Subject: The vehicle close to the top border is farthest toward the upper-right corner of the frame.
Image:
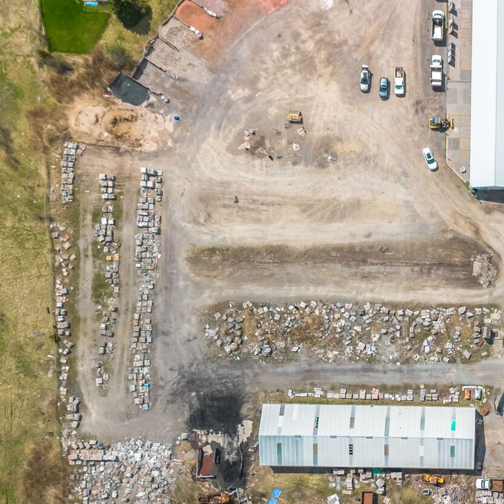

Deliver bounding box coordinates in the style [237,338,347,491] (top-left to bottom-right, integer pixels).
[432,10,445,45]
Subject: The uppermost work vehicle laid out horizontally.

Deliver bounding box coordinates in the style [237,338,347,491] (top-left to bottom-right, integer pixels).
[426,118,459,131]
